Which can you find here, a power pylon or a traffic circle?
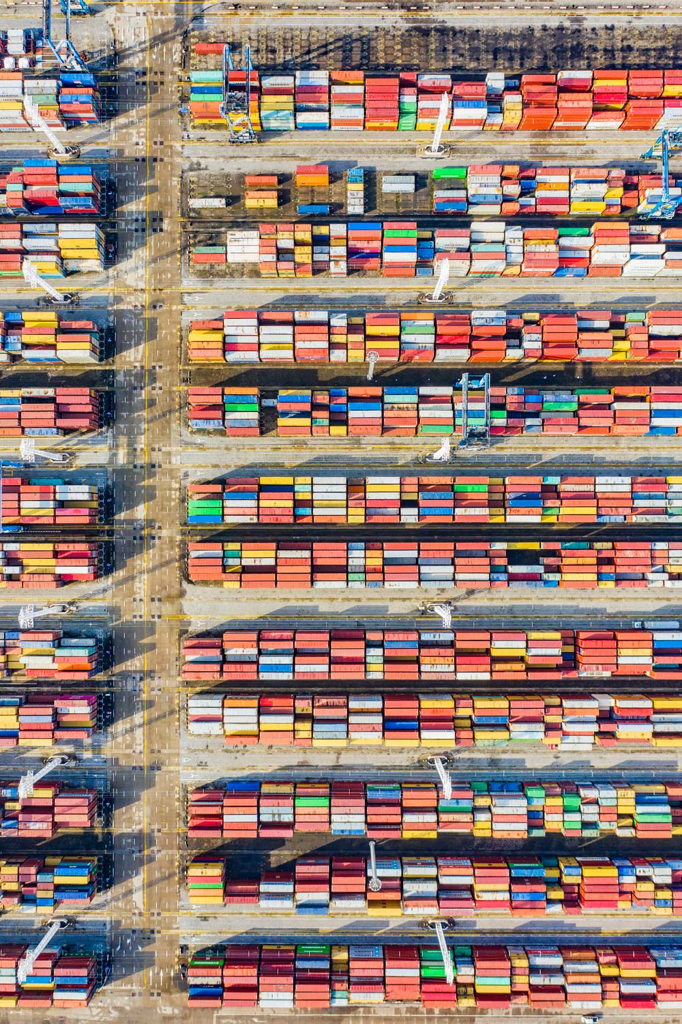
power pylon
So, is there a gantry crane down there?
Yes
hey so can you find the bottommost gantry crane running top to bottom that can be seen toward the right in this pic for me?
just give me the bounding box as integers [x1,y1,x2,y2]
[453,368,492,451]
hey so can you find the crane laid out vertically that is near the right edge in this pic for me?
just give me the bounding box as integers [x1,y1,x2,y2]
[641,124,682,220]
